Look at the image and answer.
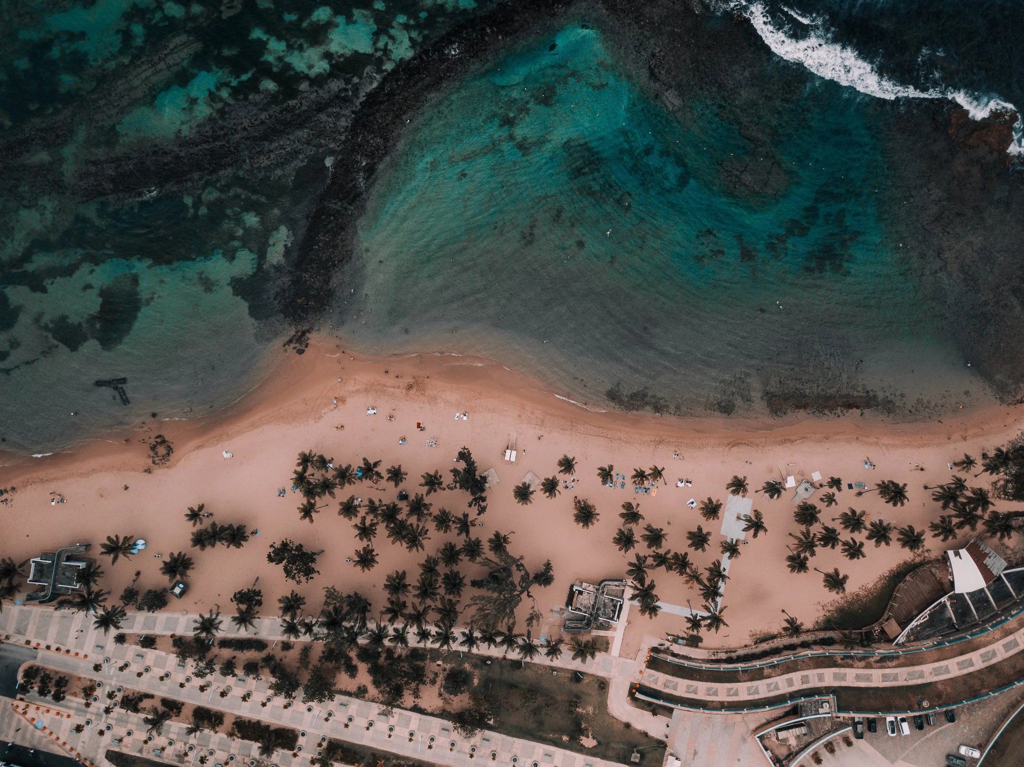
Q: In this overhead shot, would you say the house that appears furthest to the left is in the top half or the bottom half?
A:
bottom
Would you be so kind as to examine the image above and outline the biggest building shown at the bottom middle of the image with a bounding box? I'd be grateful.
[559,574,626,632]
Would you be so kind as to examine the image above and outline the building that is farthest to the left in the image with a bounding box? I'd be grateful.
[25,539,102,603]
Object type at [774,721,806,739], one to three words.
shed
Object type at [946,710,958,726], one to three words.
vehicle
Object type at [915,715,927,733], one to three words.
vehicle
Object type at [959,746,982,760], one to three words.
car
